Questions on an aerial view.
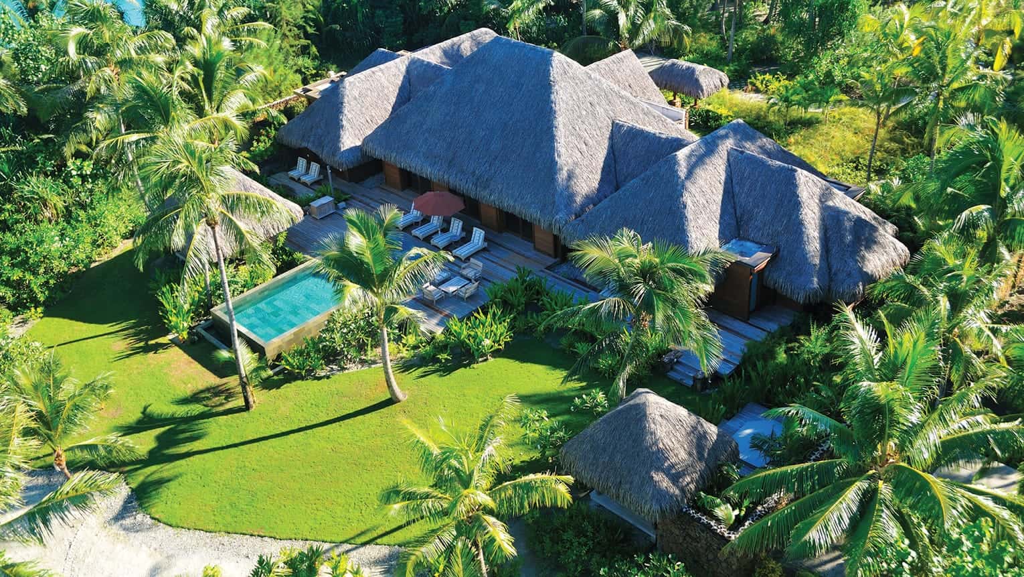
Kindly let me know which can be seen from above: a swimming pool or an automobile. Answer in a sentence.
I can see a swimming pool in this picture.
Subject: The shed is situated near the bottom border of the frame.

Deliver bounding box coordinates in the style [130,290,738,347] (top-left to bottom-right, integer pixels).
[555,386,735,551]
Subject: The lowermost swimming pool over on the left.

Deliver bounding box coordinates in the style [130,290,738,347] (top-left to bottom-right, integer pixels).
[190,260,377,371]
